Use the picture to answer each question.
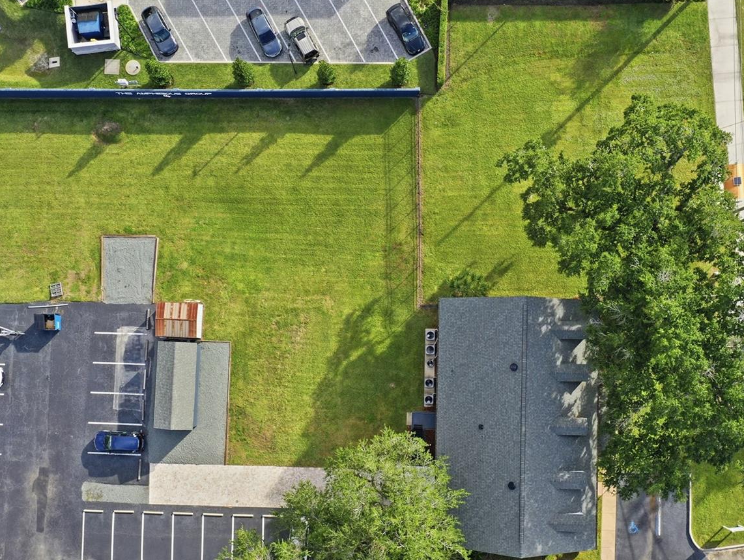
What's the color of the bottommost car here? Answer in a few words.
blue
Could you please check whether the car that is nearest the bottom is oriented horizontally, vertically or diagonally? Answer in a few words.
horizontally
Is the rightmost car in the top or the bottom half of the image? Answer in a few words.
top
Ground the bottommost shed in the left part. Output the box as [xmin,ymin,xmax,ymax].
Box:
[153,342,204,436]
